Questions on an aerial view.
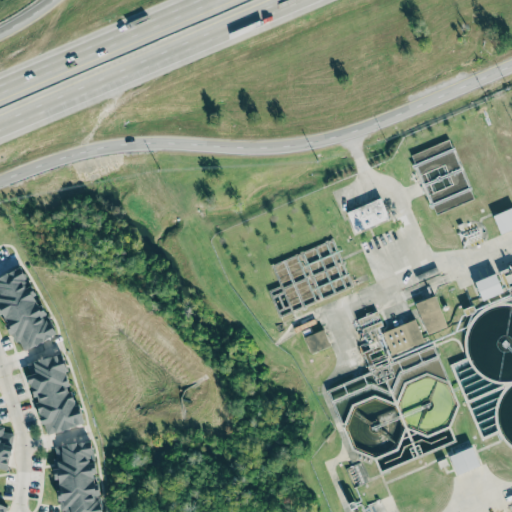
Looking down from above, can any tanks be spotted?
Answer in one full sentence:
Yes, you can see a tank in this photo.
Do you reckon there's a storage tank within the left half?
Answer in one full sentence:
No, no storage tank appears within the left half.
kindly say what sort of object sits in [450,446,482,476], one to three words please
shed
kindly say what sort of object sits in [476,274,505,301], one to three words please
building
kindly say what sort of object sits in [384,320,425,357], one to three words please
building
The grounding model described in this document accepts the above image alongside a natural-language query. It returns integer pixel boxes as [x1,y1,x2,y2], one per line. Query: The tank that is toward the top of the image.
[412,140,475,214]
